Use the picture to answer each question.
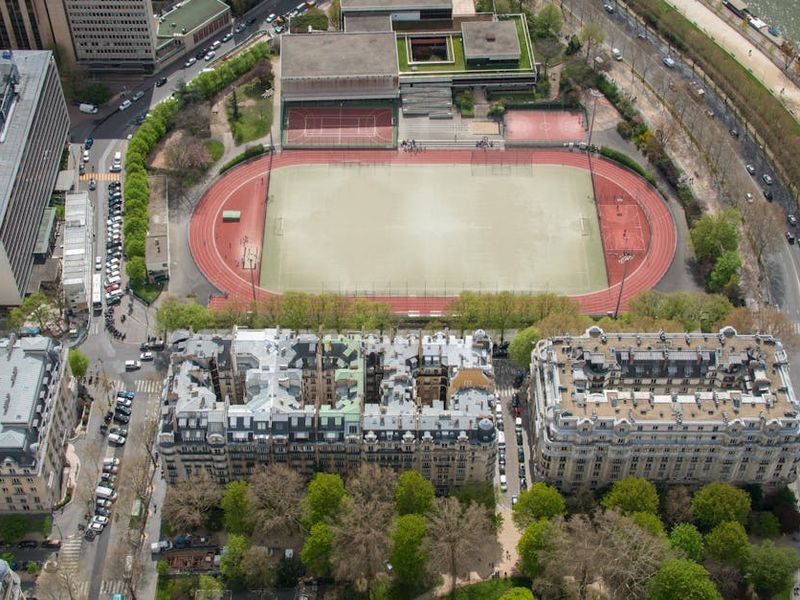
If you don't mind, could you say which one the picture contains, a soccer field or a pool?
soccer field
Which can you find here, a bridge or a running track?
running track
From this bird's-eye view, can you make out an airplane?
No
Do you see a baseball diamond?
No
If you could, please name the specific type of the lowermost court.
basketball court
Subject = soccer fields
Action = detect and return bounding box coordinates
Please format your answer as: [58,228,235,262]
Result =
[258,166,601,296]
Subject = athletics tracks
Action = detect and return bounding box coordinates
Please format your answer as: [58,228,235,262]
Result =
[190,147,675,320]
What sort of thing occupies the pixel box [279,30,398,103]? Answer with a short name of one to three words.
building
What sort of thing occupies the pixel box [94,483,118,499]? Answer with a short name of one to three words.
vehicle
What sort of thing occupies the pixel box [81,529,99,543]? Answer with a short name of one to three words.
car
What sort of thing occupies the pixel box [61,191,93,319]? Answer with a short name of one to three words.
building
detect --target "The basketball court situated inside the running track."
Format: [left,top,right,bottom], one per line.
[597,202,648,254]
